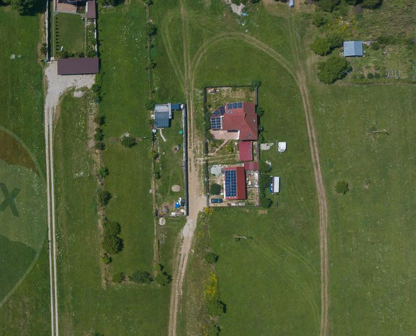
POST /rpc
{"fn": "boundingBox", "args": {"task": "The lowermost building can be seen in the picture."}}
[221,167,246,200]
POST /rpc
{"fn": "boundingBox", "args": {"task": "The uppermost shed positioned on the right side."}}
[341,41,363,57]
